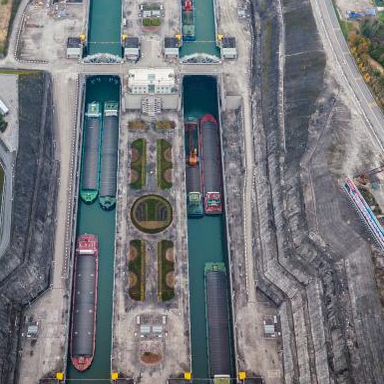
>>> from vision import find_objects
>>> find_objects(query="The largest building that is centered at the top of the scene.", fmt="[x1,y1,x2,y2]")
[129,64,174,93]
